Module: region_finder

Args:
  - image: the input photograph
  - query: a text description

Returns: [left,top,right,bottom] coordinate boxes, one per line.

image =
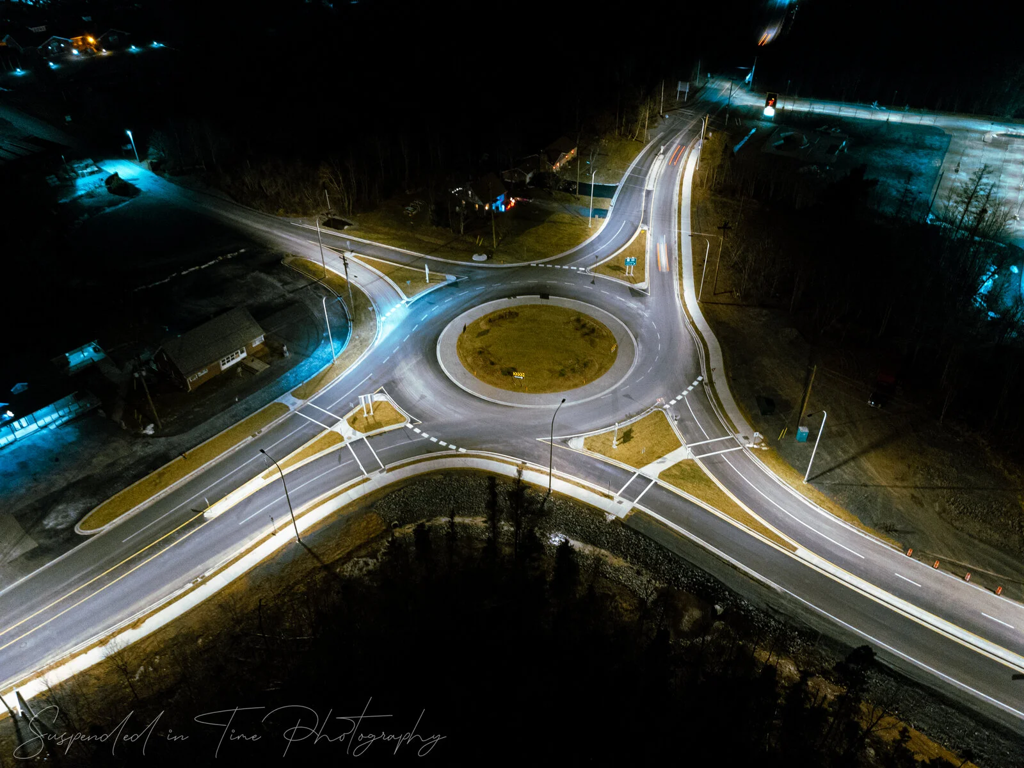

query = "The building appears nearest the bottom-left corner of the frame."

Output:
[0,346,88,460]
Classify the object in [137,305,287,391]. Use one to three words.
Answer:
house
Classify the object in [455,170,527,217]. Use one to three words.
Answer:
house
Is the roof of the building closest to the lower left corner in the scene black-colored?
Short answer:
Yes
